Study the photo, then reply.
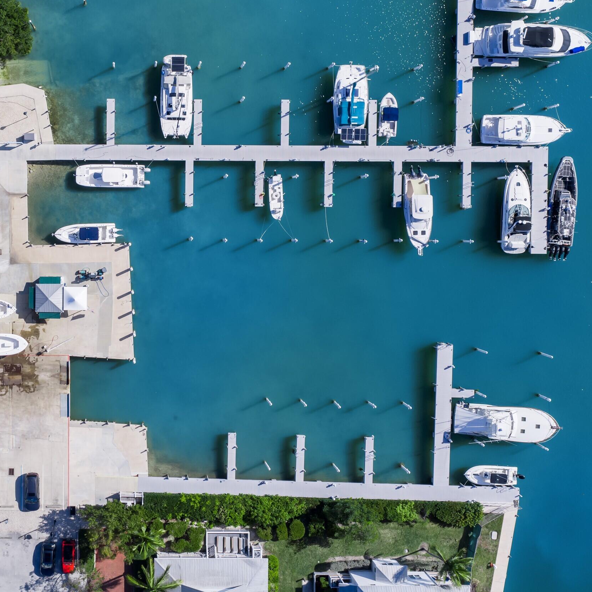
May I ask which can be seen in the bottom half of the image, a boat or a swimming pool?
boat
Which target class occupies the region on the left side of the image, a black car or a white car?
black car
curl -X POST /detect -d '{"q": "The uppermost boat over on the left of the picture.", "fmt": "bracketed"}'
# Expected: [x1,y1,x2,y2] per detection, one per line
[162,53,187,67]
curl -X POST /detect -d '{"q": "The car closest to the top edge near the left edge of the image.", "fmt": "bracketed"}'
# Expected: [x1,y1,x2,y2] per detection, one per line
[23,472,41,511]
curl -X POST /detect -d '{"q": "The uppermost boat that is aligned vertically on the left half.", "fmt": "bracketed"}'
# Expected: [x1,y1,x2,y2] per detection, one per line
[159,57,194,140]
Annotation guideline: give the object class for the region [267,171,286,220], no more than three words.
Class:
boat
